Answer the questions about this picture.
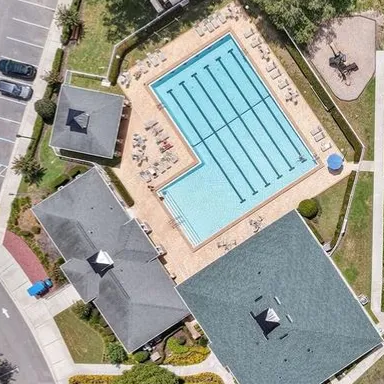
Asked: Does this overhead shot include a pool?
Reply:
Yes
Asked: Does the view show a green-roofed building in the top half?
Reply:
No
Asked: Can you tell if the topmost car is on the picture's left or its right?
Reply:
left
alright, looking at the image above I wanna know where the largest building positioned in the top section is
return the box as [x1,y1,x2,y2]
[49,84,126,159]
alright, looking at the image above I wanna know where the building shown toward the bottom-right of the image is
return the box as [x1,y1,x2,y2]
[175,209,384,384]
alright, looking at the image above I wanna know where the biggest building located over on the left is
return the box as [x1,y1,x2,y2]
[30,166,192,353]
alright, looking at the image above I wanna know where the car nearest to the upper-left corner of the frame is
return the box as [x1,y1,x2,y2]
[0,60,35,80]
